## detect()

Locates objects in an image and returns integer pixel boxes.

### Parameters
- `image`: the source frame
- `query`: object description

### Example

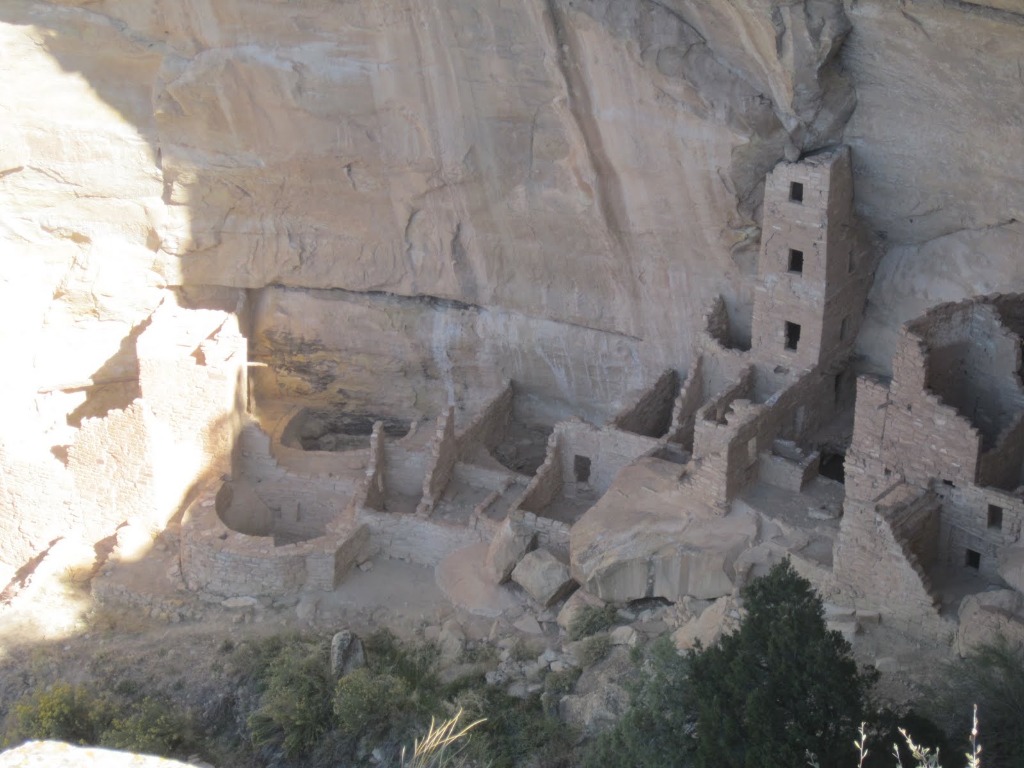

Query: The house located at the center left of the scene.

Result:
[137,296,269,533]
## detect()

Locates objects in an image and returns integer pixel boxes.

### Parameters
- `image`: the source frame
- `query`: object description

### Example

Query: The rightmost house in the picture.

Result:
[840,292,1024,611]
